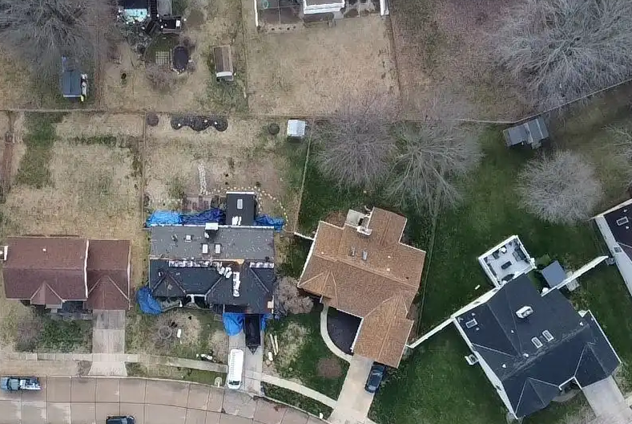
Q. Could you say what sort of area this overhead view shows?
residential area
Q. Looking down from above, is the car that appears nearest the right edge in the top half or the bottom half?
bottom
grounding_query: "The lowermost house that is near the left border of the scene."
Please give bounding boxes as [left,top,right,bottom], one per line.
[0,236,130,310]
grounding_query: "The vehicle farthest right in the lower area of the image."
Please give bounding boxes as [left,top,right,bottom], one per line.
[364,362,384,392]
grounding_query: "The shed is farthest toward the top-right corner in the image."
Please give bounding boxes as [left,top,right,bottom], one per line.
[504,117,550,152]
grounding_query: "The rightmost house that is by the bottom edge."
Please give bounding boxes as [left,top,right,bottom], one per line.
[453,276,619,418]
